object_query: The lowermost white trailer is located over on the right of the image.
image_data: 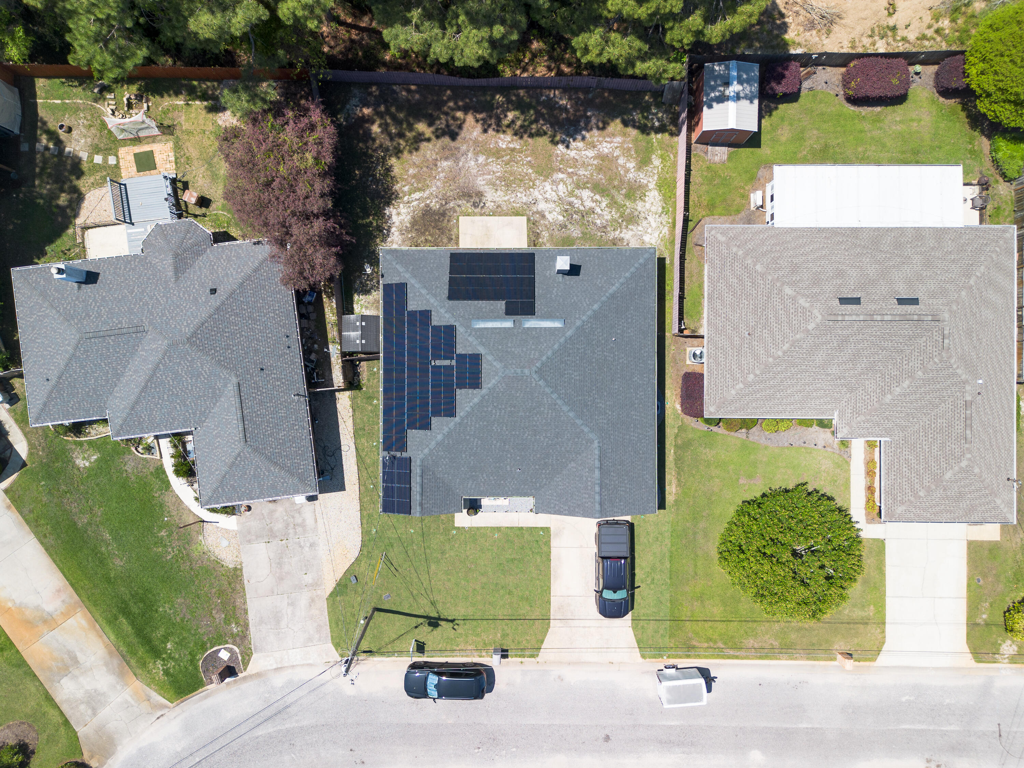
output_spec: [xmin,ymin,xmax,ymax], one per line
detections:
[656,664,717,708]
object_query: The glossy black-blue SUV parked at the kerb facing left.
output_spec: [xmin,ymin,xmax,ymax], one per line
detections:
[405,660,486,704]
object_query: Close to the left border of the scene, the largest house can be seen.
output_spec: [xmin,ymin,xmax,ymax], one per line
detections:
[8,216,322,511]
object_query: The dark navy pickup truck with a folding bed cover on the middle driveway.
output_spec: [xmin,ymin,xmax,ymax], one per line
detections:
[592,518,635,617]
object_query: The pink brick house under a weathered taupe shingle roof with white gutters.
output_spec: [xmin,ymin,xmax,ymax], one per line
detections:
[701,163,1019,525]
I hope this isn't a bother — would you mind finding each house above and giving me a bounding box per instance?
[8,216,322,511]
[701,163,1019,525]
[379,246,659,519]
